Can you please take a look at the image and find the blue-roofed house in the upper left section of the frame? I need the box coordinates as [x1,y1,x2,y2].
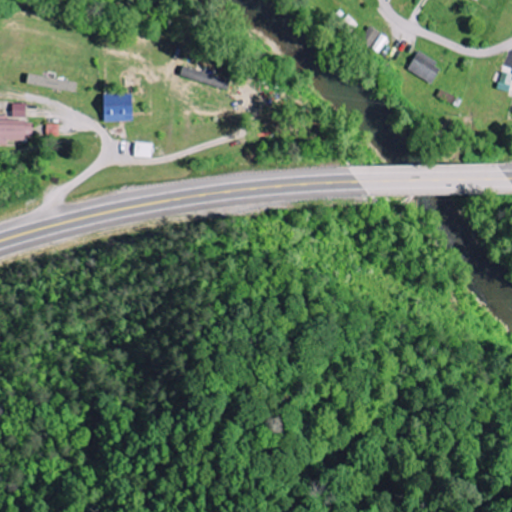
[104,94,133,126]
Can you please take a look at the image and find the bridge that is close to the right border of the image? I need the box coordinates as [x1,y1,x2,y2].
[354,164,512,196]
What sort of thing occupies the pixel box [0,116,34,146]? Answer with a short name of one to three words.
building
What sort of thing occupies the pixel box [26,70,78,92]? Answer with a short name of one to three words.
house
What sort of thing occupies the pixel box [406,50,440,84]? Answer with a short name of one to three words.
house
